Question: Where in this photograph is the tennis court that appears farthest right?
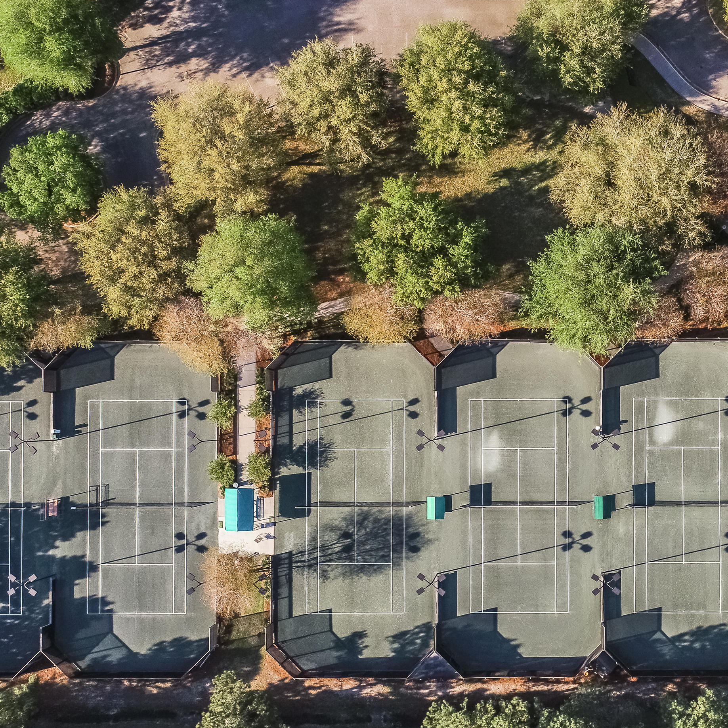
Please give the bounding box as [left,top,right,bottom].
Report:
[601,343,728,672]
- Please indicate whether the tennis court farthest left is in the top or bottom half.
bottom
